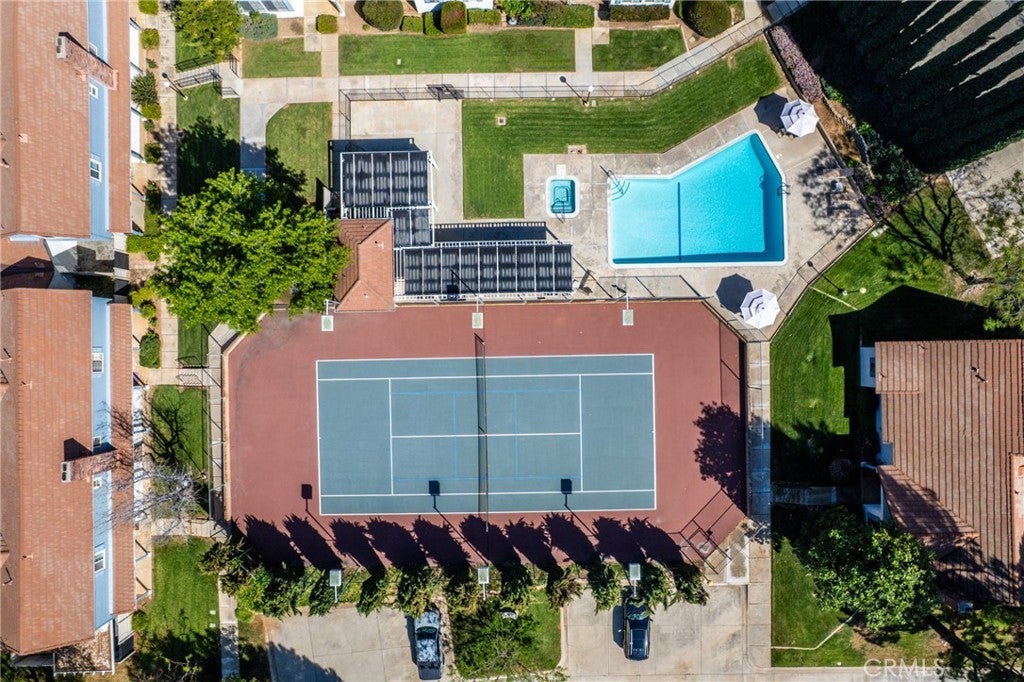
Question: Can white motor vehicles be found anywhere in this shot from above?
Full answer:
No, there isn't any white motor vehicle down there.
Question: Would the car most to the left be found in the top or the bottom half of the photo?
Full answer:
It is in the bottom half that the car most to the left appears.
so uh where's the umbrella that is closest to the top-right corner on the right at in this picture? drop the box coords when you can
[779,99,818,138]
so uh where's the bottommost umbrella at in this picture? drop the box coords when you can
[739,289,779,328]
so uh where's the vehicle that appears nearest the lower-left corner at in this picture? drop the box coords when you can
[410,607,442,680]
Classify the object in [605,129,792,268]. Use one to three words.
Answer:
swimming pool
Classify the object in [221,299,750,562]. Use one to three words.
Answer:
tennis court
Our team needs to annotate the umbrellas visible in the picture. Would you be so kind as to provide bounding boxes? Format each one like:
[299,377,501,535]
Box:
[779,99,818,138]
[739,289,779,328]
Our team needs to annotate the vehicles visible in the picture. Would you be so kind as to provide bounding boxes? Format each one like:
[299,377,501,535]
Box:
[410,607,442,680]
[621,593,654,663]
